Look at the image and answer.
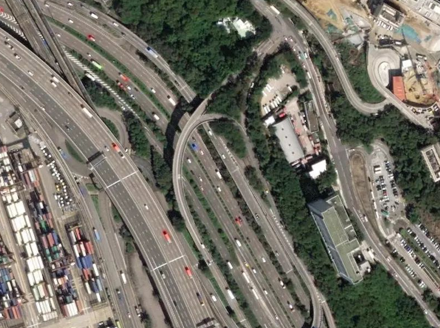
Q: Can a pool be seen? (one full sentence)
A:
No, the frame has no pool in it.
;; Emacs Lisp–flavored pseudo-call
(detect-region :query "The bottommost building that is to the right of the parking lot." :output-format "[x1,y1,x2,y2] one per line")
[420,144,440,182]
